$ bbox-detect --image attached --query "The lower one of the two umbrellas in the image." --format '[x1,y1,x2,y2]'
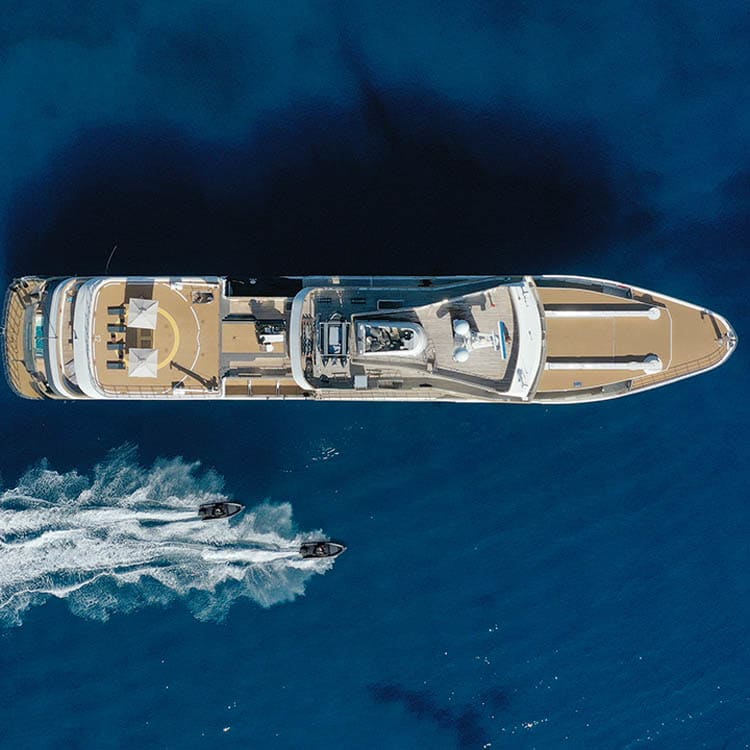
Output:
[129,348,159,378]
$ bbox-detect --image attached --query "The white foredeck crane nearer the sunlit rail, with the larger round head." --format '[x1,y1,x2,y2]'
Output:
[545,357,662,374]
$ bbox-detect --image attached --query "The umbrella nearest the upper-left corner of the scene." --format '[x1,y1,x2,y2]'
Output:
[130,298,160,328]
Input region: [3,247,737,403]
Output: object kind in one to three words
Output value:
boat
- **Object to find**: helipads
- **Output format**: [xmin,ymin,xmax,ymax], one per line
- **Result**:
[94,282,219,394]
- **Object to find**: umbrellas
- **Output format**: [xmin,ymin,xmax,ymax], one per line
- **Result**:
[130,298,160,328]
[129,348,159,378]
